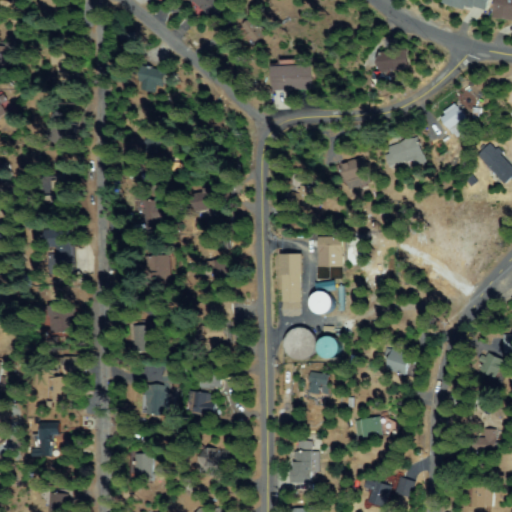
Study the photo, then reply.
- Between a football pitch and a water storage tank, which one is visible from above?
water storage tank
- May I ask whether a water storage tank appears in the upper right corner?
No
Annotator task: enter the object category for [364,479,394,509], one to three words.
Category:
house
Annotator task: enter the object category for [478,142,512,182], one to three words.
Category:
house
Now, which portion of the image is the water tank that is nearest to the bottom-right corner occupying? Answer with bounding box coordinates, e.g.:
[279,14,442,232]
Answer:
[316,334,342,360]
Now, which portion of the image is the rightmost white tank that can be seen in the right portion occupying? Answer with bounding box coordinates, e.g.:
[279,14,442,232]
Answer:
[308,290,336,315]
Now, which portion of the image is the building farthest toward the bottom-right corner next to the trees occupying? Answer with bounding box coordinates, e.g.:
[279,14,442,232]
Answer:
[473,428,500,449]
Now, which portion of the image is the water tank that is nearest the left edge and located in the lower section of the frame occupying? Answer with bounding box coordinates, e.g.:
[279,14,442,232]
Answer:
[284,326,318,360]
